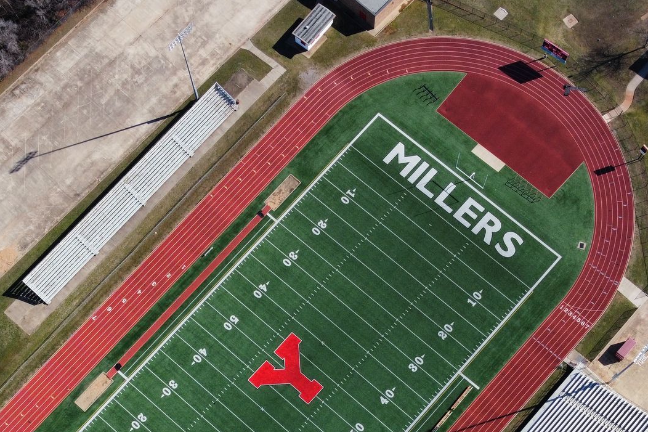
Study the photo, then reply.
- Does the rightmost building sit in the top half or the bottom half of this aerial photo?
top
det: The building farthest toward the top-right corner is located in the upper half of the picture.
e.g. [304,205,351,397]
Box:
[352,0,403,28]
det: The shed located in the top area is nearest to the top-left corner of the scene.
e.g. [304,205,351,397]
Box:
[291,3,336,49]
